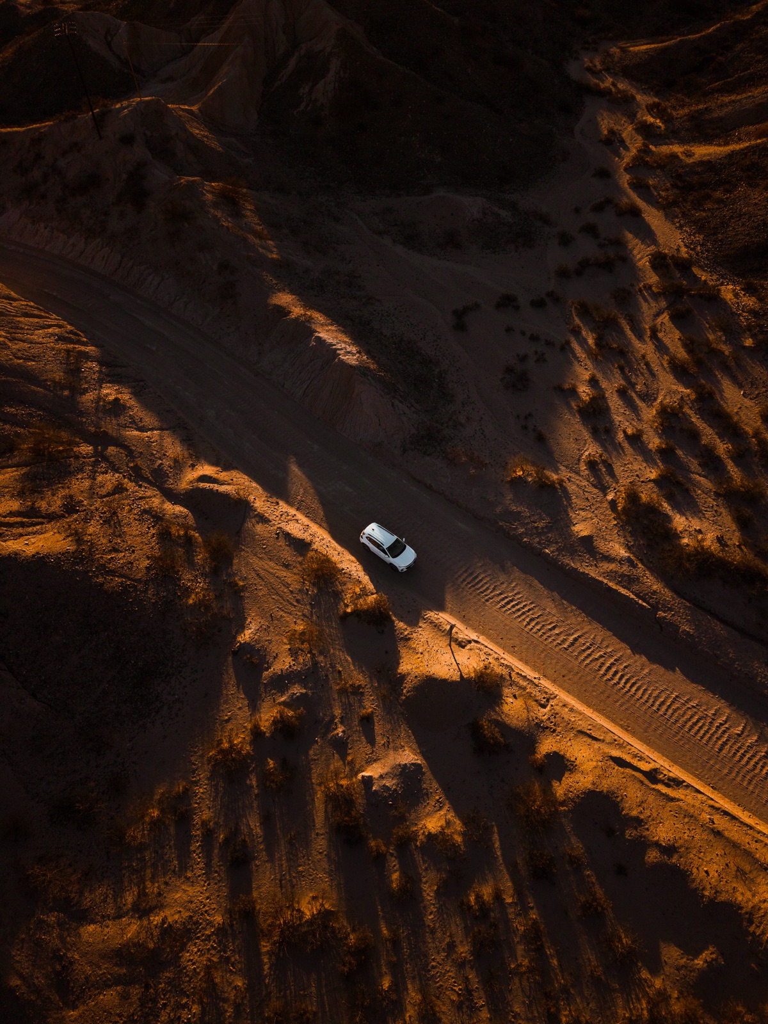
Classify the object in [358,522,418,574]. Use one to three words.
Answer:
car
